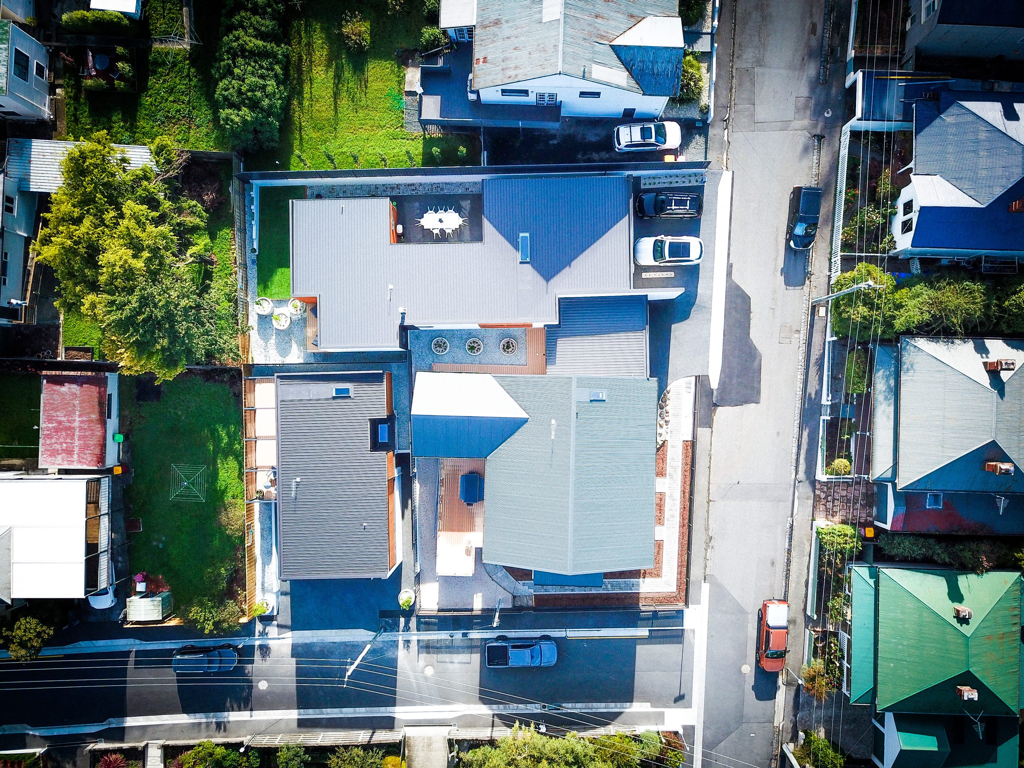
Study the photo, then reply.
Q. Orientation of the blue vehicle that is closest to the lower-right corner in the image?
from side to side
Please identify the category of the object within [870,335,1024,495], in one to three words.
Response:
house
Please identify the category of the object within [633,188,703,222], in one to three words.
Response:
car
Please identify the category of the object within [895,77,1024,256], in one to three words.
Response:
house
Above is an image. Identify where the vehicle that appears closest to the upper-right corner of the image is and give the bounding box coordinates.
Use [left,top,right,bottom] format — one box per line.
[785,181,824,256]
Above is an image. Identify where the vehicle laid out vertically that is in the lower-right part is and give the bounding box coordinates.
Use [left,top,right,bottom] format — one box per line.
[756,596,793,672]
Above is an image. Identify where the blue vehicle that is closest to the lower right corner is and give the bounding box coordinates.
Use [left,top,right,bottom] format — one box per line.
[486,631,557,668]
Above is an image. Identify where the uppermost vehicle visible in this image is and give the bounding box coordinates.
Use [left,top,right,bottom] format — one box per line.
[609,117,681,156]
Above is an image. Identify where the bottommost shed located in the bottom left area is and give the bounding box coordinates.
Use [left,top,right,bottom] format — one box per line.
[113,590,173,623]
